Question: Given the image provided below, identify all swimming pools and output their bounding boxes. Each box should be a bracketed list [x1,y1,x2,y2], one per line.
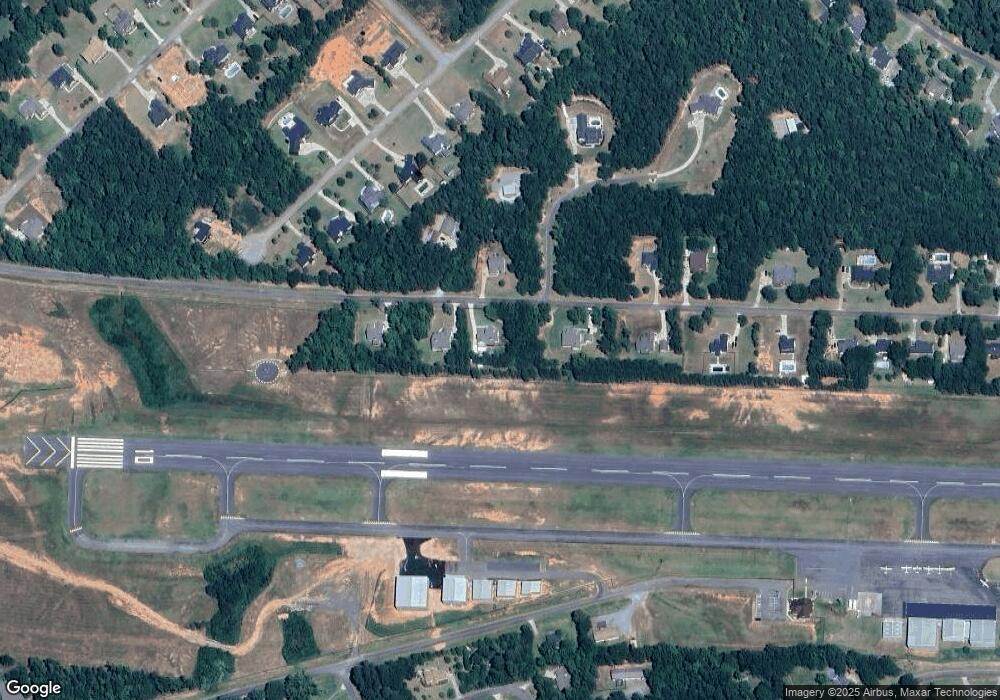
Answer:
[857,255,876,266]
[382,210,393,222]
[278,113,293,129]
[932,252,950,263]
[415,179,433,195]
[225,62,241,77]
[588,117,603,128]
[779,359,797,373]
[716,87,728,99]
[710,364,726,373]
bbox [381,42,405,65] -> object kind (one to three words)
house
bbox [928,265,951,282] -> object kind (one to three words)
house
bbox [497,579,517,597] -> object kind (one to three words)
hangar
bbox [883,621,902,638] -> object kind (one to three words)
building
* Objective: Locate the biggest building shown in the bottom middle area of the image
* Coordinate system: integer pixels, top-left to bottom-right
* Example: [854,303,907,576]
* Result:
[396,575,429,609]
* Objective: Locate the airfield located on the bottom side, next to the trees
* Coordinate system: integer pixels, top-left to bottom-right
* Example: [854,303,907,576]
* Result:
[23,435,1000,622]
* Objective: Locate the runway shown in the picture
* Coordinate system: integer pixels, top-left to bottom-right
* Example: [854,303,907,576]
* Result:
[23,435,1000,498]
